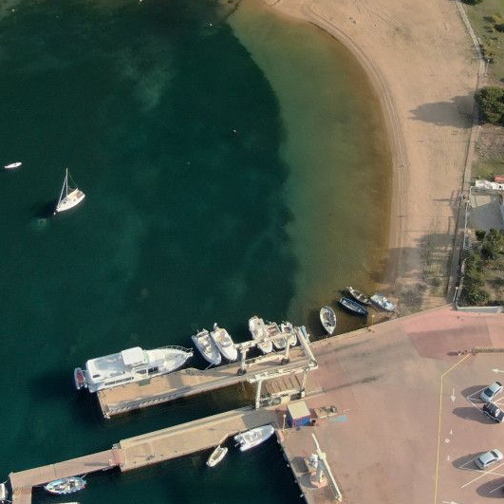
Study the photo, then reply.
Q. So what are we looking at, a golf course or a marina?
marina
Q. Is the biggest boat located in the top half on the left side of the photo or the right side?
left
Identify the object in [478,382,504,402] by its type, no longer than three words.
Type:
car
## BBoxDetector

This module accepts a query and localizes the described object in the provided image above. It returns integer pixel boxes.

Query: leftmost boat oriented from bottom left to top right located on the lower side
[205,448,225,468]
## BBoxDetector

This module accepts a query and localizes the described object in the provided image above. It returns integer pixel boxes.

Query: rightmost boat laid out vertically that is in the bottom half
[321,306,336,335]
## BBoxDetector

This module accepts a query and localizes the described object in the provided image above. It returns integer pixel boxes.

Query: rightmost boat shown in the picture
[370,293,395,309]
